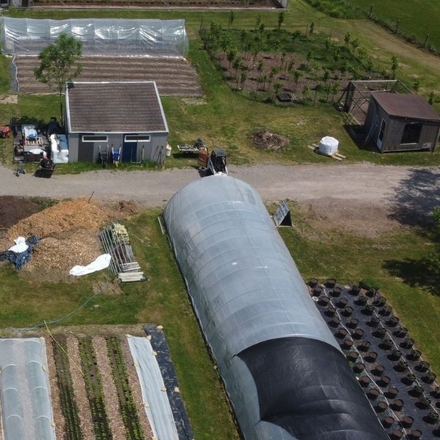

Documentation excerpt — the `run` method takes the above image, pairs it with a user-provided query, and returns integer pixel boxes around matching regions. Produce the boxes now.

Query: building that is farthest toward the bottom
[159,170,344,440]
